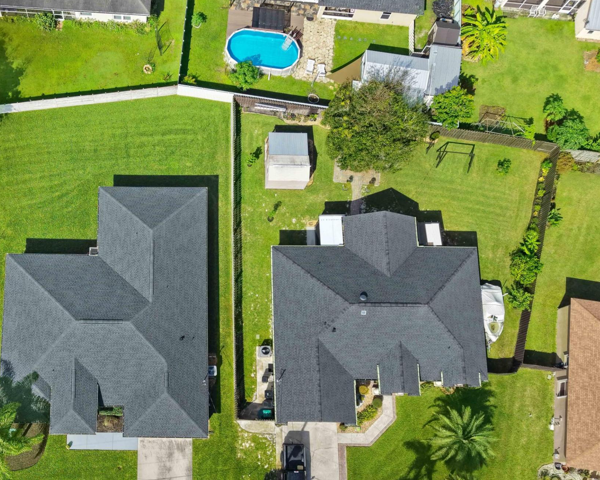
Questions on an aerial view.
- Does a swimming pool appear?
Yes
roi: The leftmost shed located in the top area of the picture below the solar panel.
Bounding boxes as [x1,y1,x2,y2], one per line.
[266,132,310,189]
